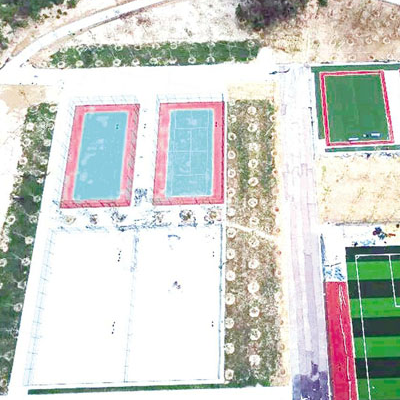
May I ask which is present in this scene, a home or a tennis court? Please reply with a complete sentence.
This aerial view contains a tennis court.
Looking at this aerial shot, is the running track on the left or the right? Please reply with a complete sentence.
The running track is on the right side of the image.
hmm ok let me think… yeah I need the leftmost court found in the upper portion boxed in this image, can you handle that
[60,104,139,209]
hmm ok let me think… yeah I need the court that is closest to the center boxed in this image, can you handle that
[153,101,224,206]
